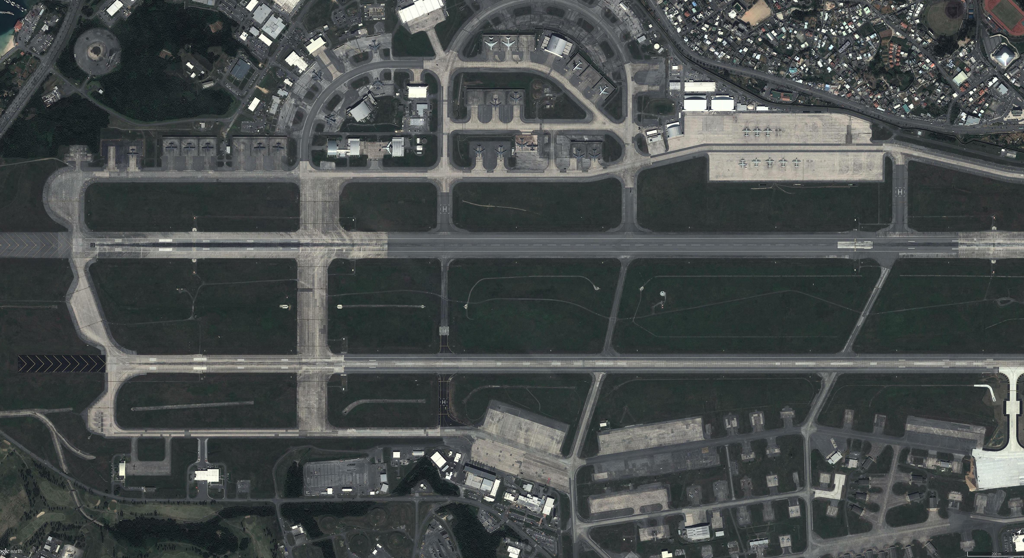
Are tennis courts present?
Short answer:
No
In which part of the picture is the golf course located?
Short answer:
bottom left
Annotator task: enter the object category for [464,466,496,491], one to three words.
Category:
building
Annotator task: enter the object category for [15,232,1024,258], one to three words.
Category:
runway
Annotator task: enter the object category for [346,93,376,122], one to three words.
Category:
hangar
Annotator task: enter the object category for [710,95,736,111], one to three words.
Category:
hangar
